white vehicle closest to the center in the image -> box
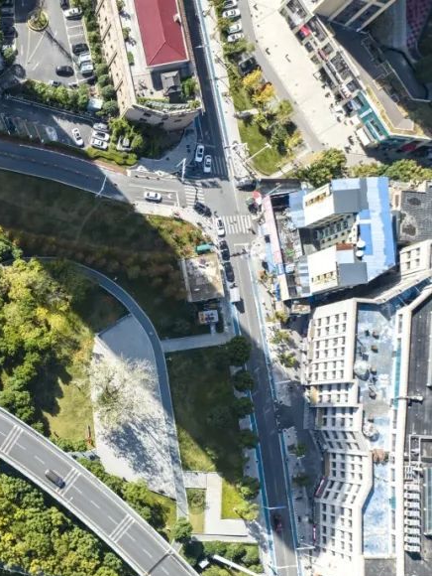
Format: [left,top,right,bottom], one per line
[229,283,242,305]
